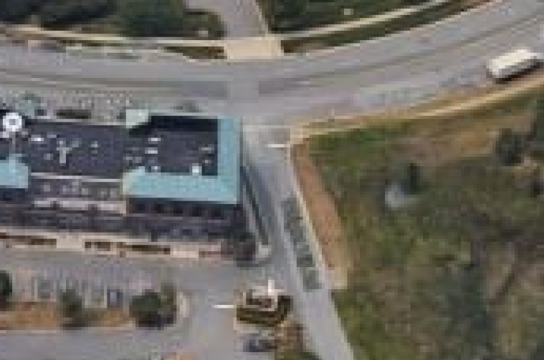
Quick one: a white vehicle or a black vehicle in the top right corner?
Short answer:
white vehicle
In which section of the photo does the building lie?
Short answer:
left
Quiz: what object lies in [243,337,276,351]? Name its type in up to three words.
car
